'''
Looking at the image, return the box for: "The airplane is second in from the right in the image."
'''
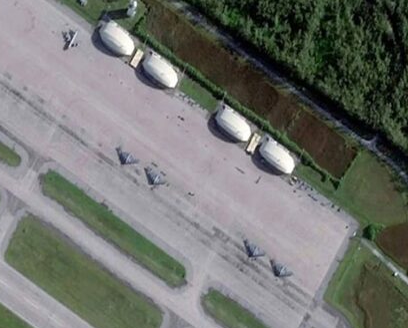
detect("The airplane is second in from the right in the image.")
[244,240,266,255]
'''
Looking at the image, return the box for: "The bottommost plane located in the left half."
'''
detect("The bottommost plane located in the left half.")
[145,167,168,182]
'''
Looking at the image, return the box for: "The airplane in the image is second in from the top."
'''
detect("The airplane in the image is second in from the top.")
[116,147,141,161]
